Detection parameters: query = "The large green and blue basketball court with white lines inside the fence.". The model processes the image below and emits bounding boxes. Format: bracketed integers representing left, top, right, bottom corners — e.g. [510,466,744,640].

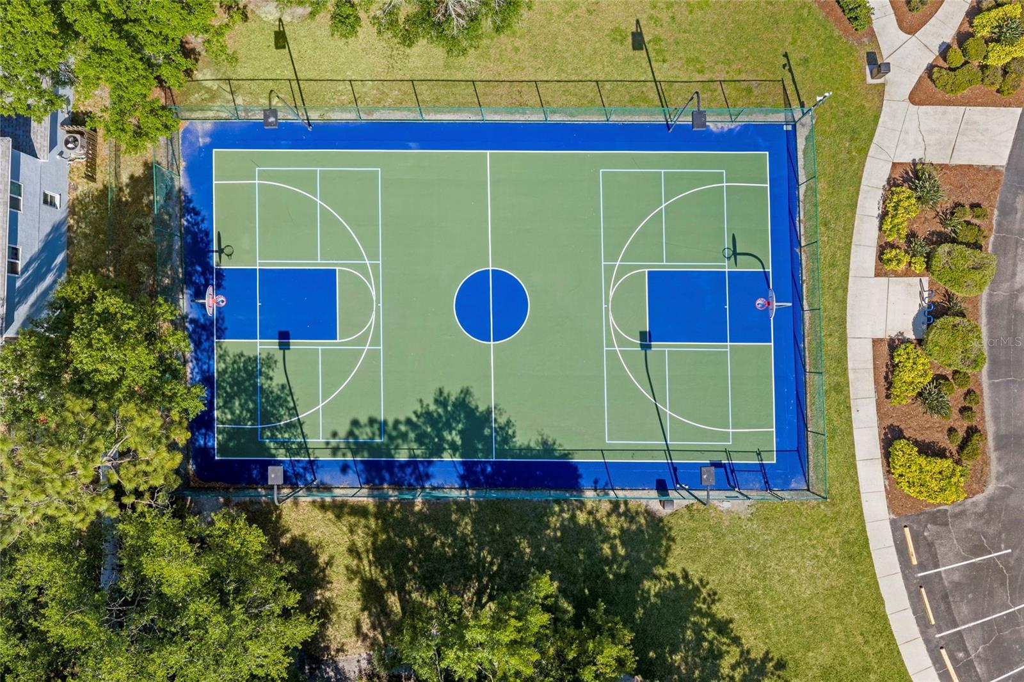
[182,122,809,490]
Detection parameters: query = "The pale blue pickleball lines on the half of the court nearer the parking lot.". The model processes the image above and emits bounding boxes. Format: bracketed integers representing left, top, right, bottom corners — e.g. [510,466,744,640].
[600,169,731,444]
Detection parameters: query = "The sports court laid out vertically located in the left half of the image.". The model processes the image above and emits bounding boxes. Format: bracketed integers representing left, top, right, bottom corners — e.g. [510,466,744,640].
[256,168,383,441]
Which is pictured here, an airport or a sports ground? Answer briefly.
sports ground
